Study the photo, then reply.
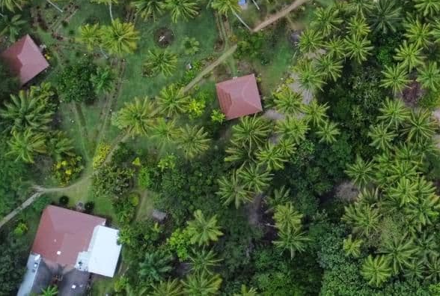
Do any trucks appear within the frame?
No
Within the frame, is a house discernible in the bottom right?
No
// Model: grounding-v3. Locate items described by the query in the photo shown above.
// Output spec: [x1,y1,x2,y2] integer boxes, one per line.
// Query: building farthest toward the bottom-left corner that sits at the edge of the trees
[19,207,122,296]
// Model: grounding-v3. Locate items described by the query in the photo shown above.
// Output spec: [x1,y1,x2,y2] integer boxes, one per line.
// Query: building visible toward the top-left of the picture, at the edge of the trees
[0,34,55,88]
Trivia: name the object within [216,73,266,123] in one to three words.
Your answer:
house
